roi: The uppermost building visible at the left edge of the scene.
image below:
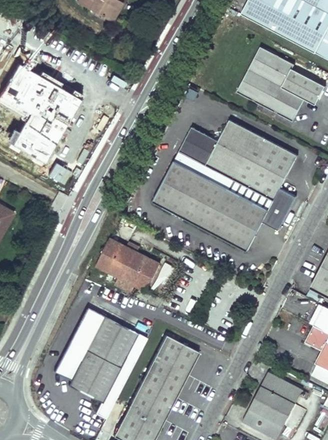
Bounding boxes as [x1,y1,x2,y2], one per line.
[0,64,83,165]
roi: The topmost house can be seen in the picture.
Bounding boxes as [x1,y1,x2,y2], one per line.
[76,0,128,21]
